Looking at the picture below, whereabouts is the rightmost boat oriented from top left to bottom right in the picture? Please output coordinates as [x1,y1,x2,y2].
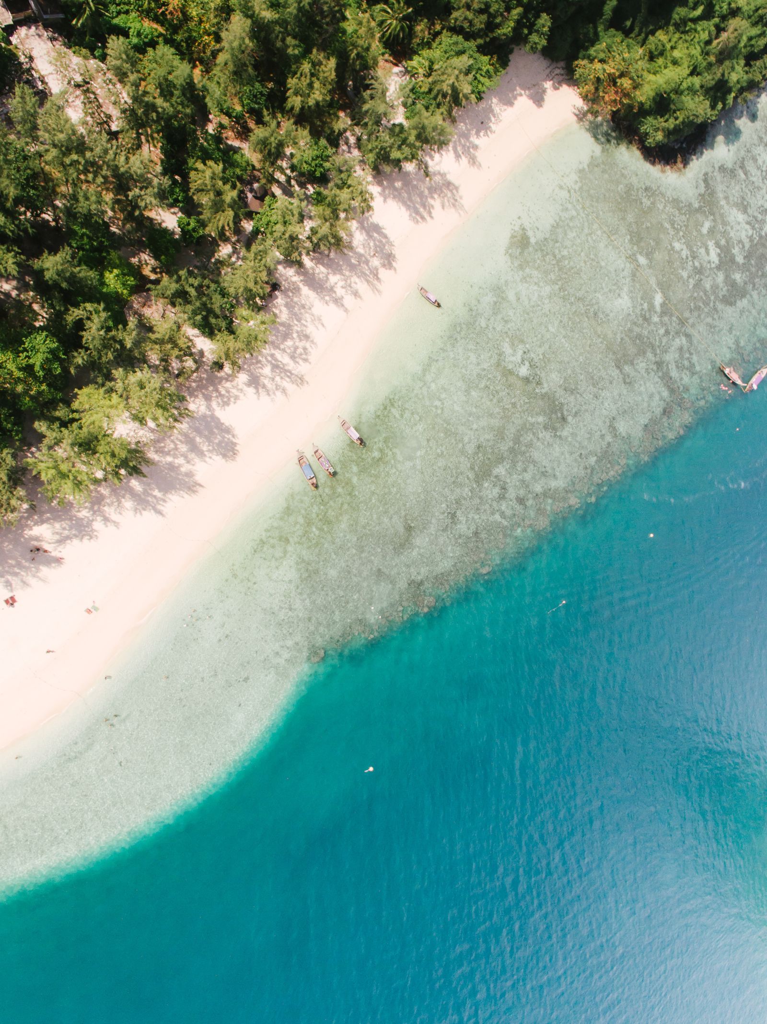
[720,362,753,385]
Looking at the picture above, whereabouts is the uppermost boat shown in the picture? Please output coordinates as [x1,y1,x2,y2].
[417,281,448,316]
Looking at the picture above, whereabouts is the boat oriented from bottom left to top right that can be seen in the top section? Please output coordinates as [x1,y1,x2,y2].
[746,364,767,393]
